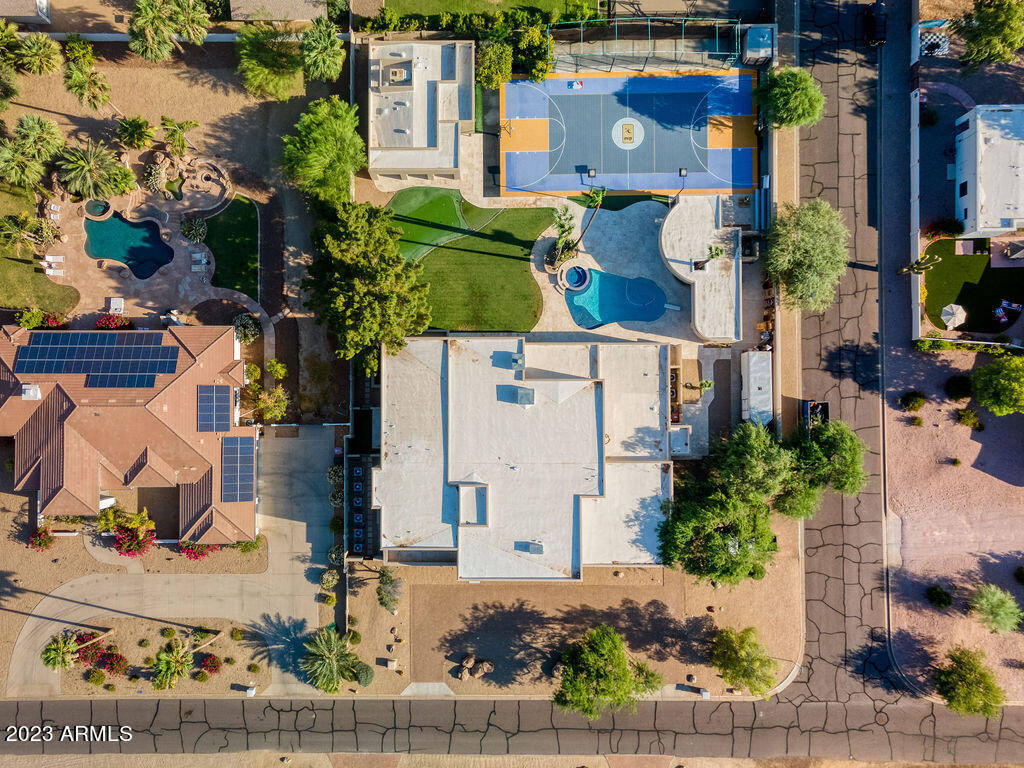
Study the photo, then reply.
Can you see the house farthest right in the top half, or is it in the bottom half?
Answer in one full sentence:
Seen from above, the house farthest right lies in the top half of the view.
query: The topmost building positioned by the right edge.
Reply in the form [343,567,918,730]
[954,105,1024,236]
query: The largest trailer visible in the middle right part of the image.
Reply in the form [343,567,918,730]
[739,351,774,429]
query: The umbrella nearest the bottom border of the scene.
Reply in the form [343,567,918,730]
[939,304,965,329]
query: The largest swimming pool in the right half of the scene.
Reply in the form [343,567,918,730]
[563,267,670,332]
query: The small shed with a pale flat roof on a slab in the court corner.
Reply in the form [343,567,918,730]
[743,29,773,65]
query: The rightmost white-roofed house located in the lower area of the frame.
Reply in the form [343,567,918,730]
[371,337,691,585]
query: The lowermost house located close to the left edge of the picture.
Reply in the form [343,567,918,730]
[0,325,261,545]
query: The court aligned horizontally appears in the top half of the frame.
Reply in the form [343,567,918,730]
[500,71,757,197]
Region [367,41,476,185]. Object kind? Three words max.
house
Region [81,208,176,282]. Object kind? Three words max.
swimming pool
